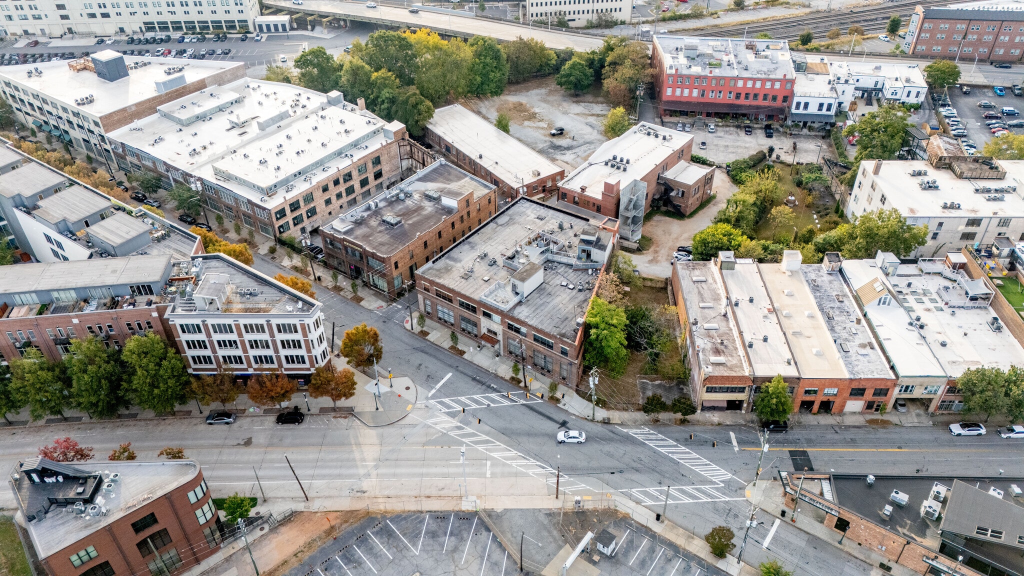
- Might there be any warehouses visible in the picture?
Yes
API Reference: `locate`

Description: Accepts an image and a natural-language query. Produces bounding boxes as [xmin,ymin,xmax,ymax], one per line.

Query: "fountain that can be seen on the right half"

[776,189,804,208]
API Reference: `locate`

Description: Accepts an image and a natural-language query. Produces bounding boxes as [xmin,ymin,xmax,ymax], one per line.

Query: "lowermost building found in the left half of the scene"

[8,456,229,576]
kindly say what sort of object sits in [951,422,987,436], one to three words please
car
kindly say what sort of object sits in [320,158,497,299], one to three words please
warehouse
